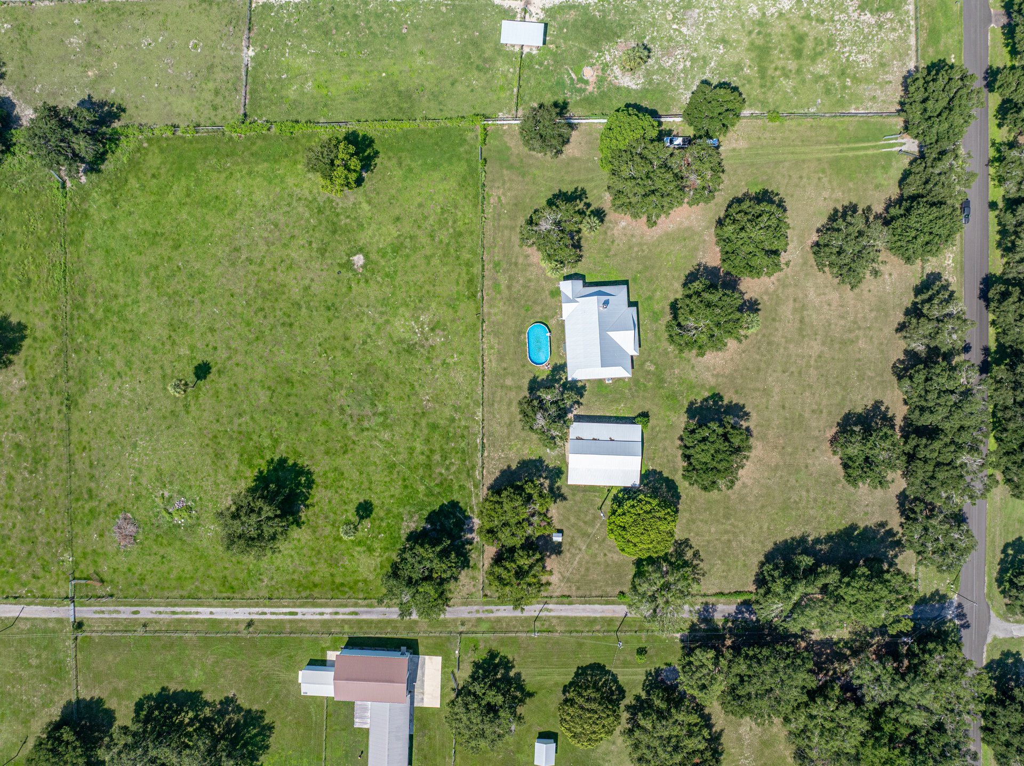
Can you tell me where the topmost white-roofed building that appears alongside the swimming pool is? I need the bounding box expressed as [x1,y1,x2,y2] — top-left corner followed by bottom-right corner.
[560,280,639,380]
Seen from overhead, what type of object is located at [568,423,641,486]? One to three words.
barn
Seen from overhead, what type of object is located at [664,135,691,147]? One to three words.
vehicle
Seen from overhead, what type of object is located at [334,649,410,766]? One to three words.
building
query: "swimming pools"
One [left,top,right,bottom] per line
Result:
[526,323,550,366]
